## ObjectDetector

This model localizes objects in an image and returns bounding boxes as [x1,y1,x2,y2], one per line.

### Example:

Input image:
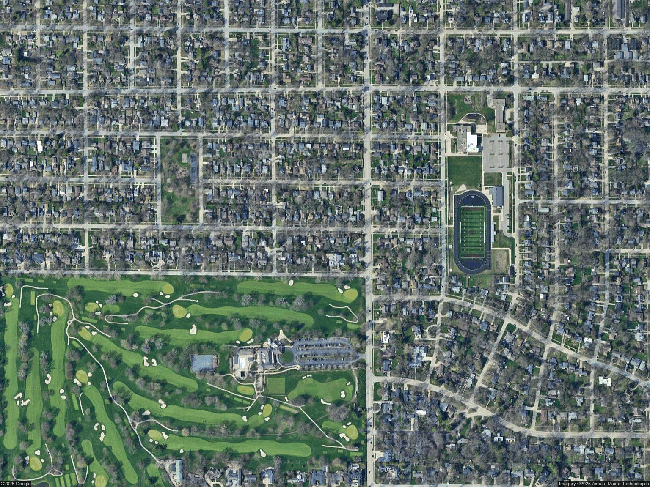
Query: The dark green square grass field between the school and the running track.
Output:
[449,156,482,185]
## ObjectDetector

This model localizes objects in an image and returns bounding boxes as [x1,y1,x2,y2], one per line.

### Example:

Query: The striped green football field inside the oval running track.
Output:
[460,206,486,258]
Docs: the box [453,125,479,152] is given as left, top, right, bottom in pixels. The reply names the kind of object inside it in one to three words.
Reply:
building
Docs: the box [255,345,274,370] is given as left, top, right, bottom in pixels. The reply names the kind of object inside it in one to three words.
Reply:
building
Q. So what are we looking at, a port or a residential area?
residential area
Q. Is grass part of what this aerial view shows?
Yes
